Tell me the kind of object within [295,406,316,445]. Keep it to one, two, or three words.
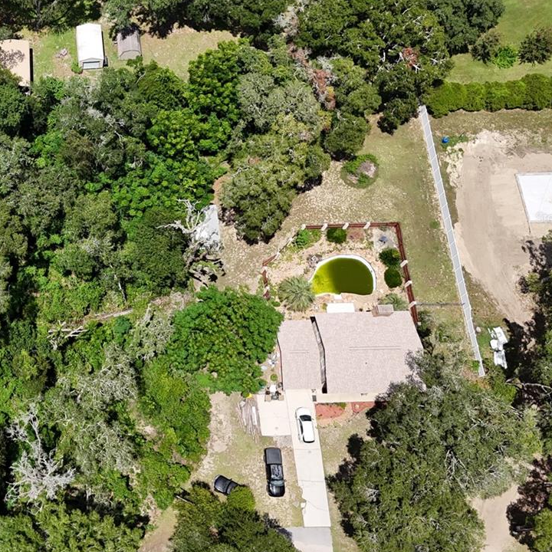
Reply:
car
